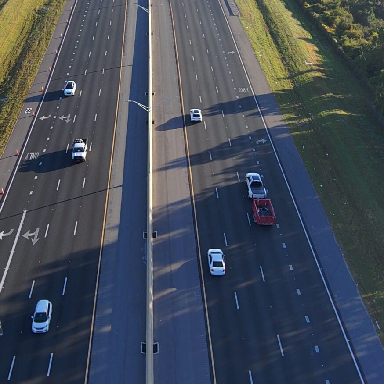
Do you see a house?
No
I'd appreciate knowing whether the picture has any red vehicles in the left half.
No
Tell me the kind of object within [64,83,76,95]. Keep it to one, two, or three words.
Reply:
vehicle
